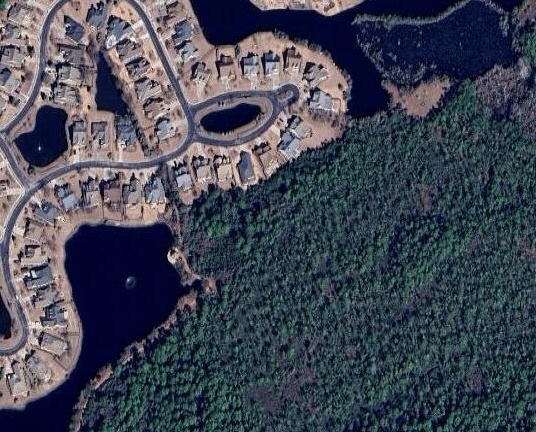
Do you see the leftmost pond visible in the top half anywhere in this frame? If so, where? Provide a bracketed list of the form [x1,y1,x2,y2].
[17,106,66,165]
